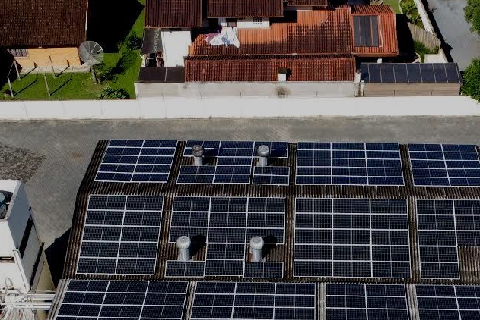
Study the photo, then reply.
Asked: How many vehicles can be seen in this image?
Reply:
0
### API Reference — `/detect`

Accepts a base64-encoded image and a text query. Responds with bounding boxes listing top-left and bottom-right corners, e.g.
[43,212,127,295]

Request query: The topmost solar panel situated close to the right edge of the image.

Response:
[360,62,462,84]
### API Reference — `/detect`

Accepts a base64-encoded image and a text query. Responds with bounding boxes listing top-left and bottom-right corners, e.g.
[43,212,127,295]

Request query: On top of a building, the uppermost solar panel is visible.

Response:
[354,15,379,46]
